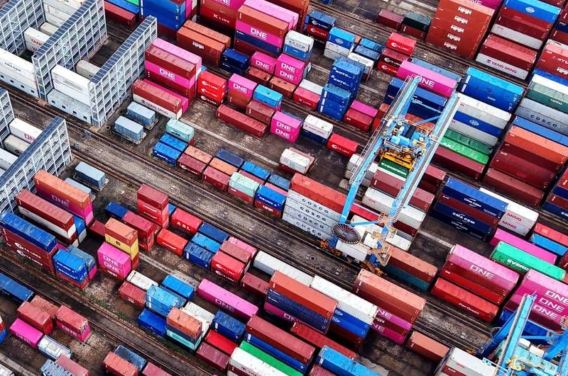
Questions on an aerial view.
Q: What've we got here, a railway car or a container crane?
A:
container crane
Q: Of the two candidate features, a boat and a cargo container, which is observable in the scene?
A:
cargo container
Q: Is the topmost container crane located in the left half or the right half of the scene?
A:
right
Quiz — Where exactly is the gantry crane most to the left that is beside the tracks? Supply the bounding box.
[312,70,465,283]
